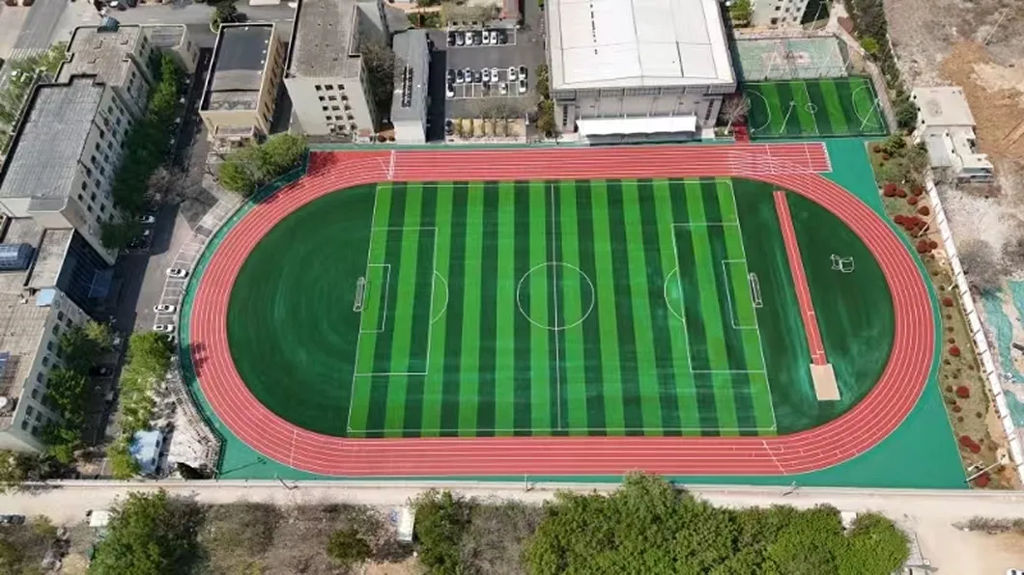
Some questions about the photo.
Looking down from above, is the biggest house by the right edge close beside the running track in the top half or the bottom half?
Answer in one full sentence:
The biggest house by the right edge close beside the running track sits in the top half of the picture.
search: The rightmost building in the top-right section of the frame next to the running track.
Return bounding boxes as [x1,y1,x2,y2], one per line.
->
[908,87,994,182]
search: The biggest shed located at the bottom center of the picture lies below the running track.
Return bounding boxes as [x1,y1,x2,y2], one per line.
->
[397,508,415,544]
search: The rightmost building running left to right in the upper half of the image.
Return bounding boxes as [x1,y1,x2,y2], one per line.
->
[746,0,810,29]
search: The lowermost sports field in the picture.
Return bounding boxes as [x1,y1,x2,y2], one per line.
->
[228,176,894,438]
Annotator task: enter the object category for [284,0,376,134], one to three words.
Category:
building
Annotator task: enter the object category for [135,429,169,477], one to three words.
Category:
shed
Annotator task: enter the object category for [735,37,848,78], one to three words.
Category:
sports court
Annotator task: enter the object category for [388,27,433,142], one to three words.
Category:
building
